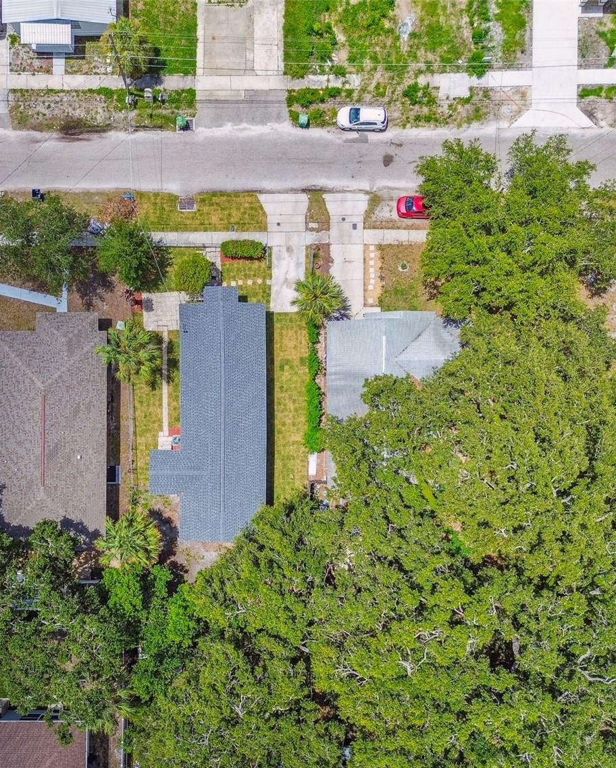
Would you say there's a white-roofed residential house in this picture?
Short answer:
Yes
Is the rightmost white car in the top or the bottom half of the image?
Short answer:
top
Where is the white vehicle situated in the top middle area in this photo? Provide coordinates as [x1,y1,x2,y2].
[339,107,387,134]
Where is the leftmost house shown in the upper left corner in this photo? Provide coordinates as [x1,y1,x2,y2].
[2,0,117,52]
